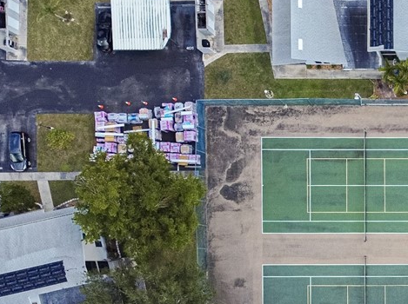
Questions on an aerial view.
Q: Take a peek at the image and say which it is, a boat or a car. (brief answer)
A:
car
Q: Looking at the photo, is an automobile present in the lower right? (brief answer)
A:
No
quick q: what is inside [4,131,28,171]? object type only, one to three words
car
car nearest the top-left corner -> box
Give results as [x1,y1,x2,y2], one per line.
[94,9,114,52]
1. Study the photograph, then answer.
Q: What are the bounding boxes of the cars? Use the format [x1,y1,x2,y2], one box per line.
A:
[94,9,114,52]
[4,131,28,171]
